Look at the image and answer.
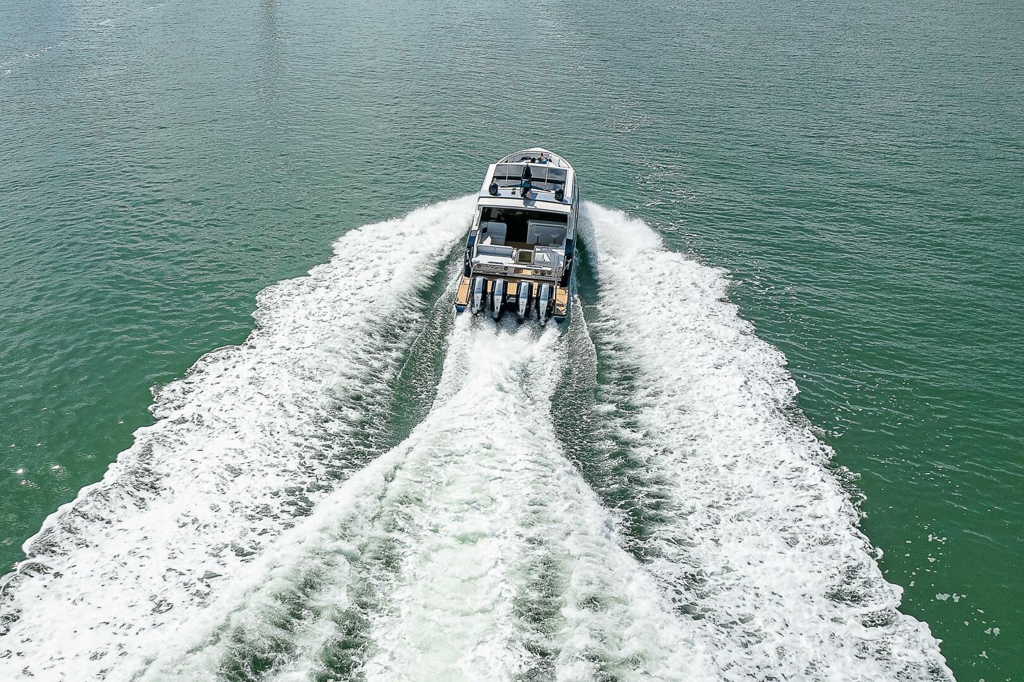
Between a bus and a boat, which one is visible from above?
boat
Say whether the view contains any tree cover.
No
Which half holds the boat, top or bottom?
top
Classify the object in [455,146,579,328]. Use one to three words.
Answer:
boat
